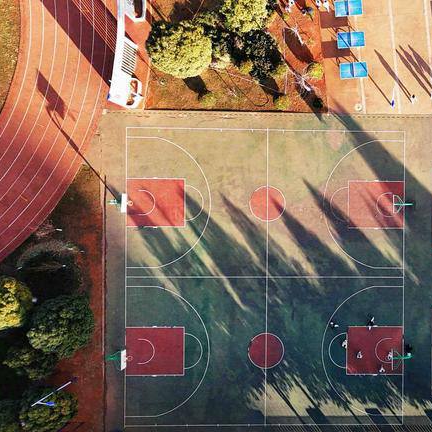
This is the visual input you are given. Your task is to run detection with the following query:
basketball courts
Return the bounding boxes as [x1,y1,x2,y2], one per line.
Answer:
[123,277,403,426]
[125,127,404,277]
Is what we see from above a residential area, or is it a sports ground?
sports ground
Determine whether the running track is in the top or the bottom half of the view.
top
